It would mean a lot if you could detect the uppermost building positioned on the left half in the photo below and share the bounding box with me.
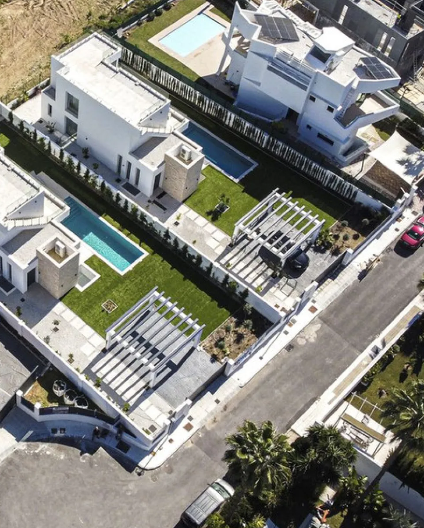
[41,26,220,203]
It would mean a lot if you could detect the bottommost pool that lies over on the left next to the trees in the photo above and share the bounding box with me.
[60,192,148,275]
